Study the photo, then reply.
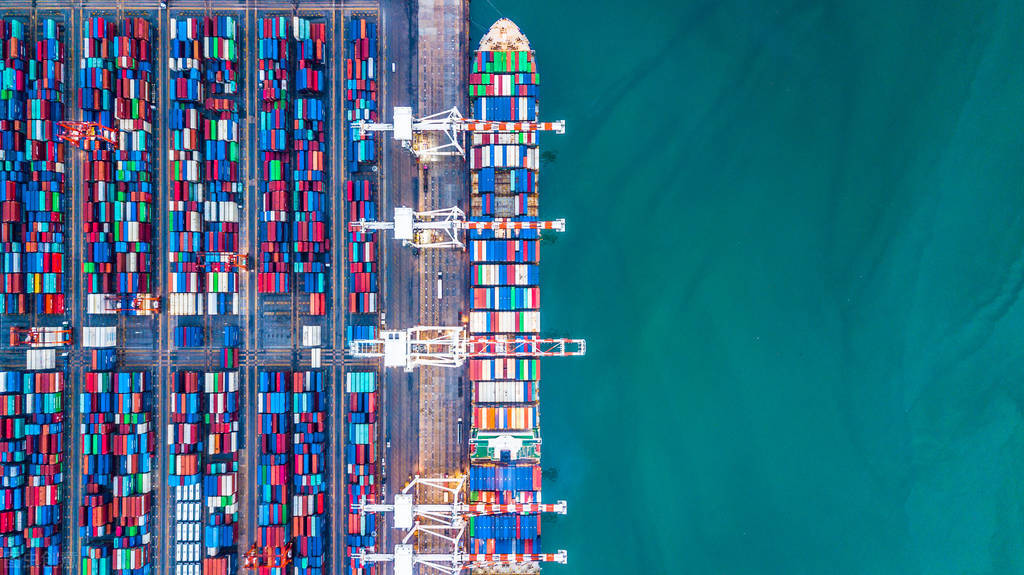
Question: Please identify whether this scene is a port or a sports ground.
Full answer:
The picture captures a port.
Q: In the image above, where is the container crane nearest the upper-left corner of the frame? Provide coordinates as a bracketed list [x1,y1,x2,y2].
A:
[57,122,118,148]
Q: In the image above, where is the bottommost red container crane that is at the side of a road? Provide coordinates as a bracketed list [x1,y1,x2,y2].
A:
[241,542,293,574]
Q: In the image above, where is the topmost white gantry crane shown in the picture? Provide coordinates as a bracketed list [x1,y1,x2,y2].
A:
[351,107,566,162]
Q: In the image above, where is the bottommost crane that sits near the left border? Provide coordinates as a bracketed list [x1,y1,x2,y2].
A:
[10,326,73,345]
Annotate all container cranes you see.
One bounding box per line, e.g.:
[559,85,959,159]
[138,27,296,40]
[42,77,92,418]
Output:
[351,319,585,371]
[10,326,73,345]
[241,542,293,574]
[57,122,118,148]
[101,295,160,313]
[351,515,566,575]
[351,204,566,253]
[351,469,566,529]
[193,252,247,270]
[351,107,566,162]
